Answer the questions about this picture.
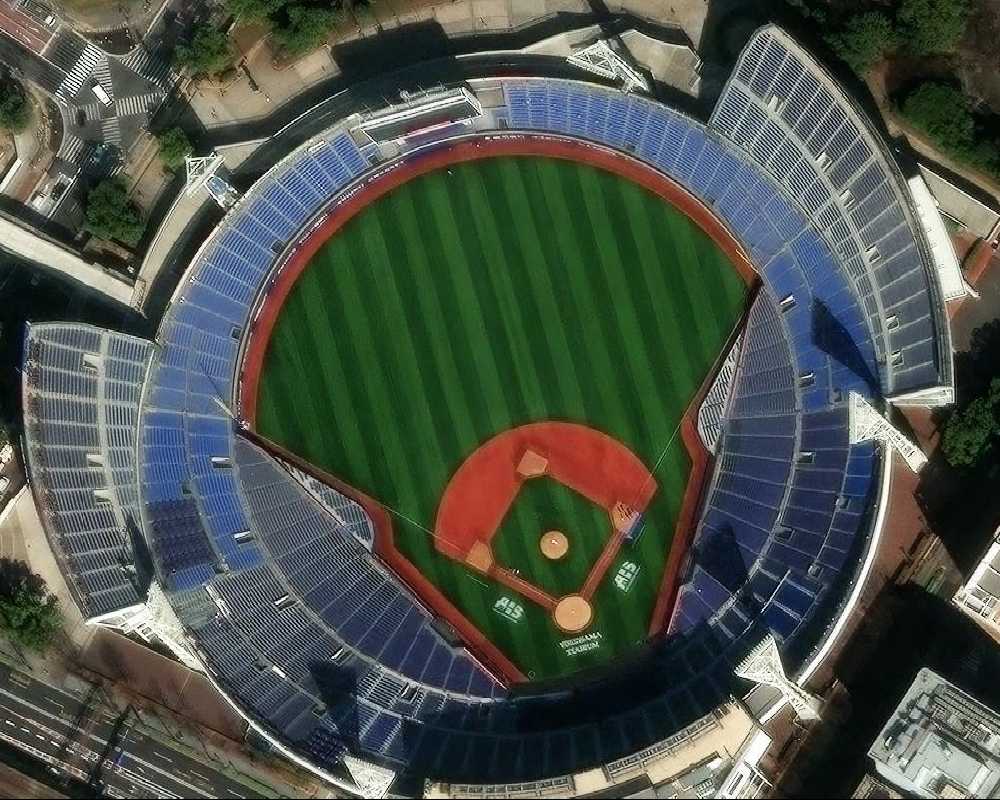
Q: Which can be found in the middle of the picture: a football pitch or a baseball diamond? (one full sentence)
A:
It is a baseball diamond that can be seen in the middle of the picture.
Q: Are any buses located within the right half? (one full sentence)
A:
No, no bus appears within the right half.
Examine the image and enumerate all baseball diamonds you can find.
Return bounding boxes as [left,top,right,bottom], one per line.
[240,140,763,703]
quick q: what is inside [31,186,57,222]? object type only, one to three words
bus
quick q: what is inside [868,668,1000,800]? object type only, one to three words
building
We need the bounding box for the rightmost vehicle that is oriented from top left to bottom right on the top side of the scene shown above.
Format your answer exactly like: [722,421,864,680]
[90,83,111,106]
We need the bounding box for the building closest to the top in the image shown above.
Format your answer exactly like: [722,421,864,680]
[918,164,1000,245]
